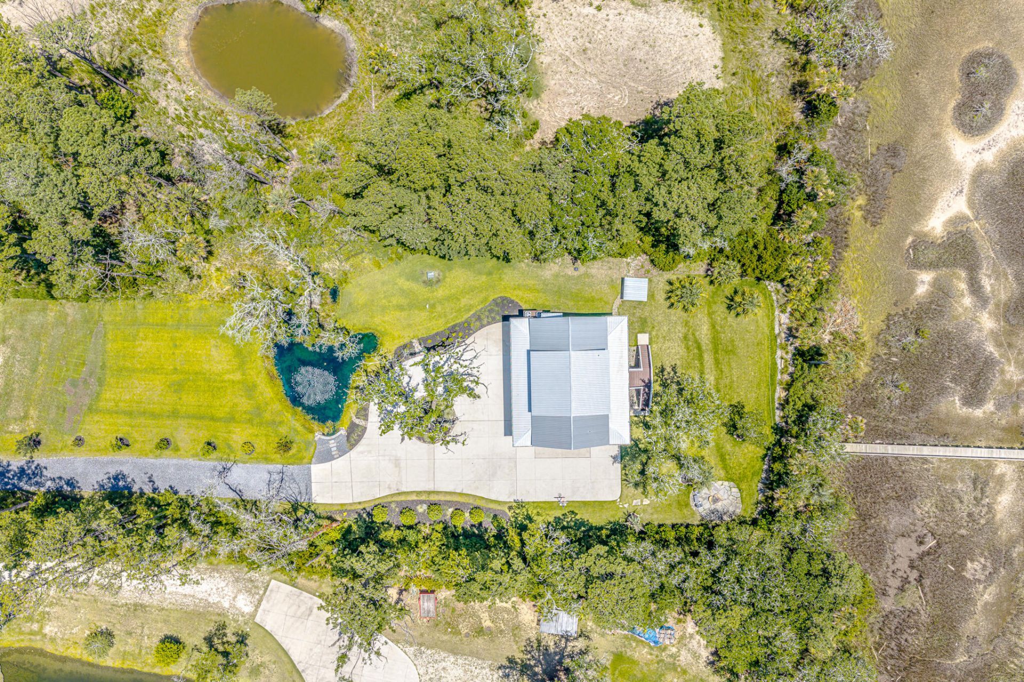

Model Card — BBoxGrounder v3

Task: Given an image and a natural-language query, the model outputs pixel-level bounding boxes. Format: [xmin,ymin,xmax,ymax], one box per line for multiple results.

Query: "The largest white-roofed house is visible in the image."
[509,313,631,450]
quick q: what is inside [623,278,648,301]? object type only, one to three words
shed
